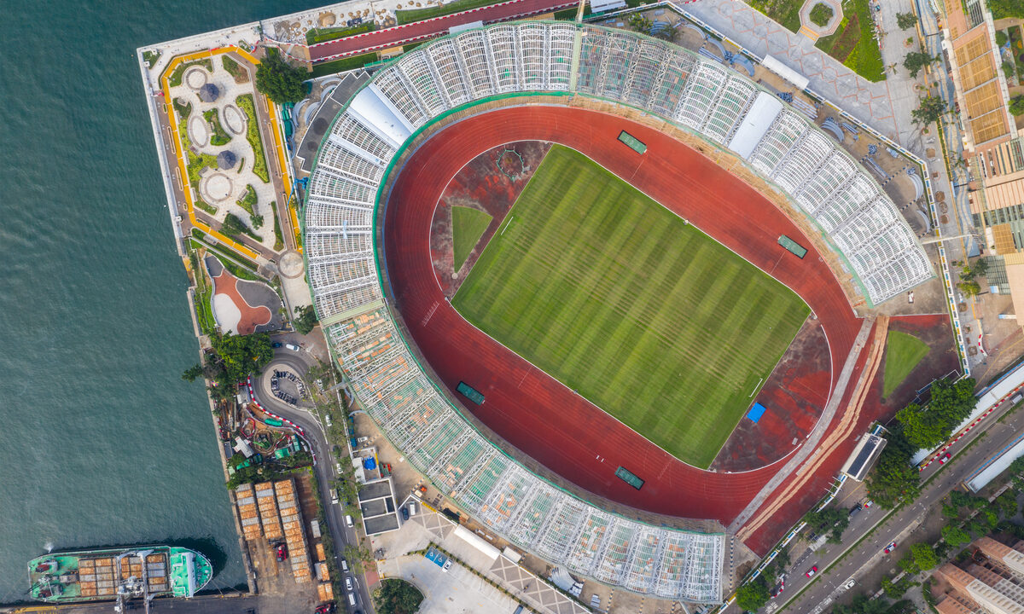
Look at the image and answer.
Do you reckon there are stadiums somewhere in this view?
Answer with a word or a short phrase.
Yes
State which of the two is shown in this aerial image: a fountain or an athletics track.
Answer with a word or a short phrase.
athletics track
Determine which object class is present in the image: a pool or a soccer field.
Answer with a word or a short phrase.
soccer field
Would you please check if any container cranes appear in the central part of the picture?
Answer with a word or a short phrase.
No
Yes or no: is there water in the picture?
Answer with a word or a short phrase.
Yes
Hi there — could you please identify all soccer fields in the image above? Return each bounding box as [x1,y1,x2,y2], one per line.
[453,144,810,467]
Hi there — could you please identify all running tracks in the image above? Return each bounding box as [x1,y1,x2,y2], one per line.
[383,106,948,543]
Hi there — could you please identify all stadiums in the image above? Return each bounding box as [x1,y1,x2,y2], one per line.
[302,20,934,603]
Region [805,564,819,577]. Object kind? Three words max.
vehicle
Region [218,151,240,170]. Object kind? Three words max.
gazebo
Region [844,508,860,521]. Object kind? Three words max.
vehicle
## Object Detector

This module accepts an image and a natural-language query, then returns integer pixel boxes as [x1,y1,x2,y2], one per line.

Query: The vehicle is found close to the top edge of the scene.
[347,15,372,29]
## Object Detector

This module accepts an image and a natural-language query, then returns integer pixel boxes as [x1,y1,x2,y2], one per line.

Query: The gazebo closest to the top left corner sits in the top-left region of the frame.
[201,84,222,105]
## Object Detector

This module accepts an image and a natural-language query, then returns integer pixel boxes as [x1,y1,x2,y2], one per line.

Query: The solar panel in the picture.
[848,438,881,477]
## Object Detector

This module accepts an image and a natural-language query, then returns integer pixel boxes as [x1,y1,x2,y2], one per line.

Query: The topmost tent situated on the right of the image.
[759,55,809,92]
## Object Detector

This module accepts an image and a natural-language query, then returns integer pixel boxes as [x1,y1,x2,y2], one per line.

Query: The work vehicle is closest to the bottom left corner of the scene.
[269,541,288,562]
